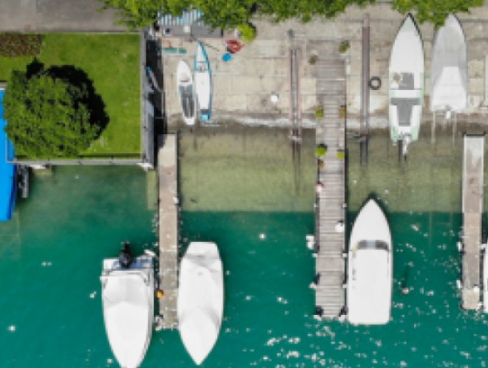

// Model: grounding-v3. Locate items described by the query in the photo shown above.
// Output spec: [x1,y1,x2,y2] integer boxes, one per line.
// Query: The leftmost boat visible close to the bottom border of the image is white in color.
[101,235,156,368]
